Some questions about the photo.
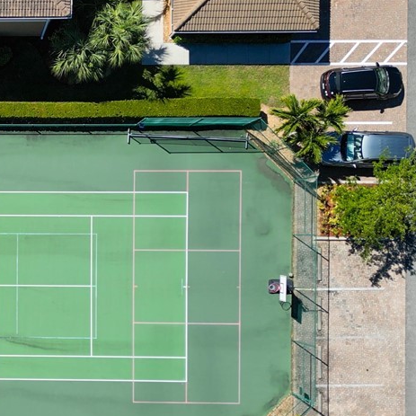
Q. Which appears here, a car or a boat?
car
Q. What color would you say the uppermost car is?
black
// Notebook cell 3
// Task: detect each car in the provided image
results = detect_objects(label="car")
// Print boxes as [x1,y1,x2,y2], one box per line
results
[317,127,416,171]
[315,62,401,105]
